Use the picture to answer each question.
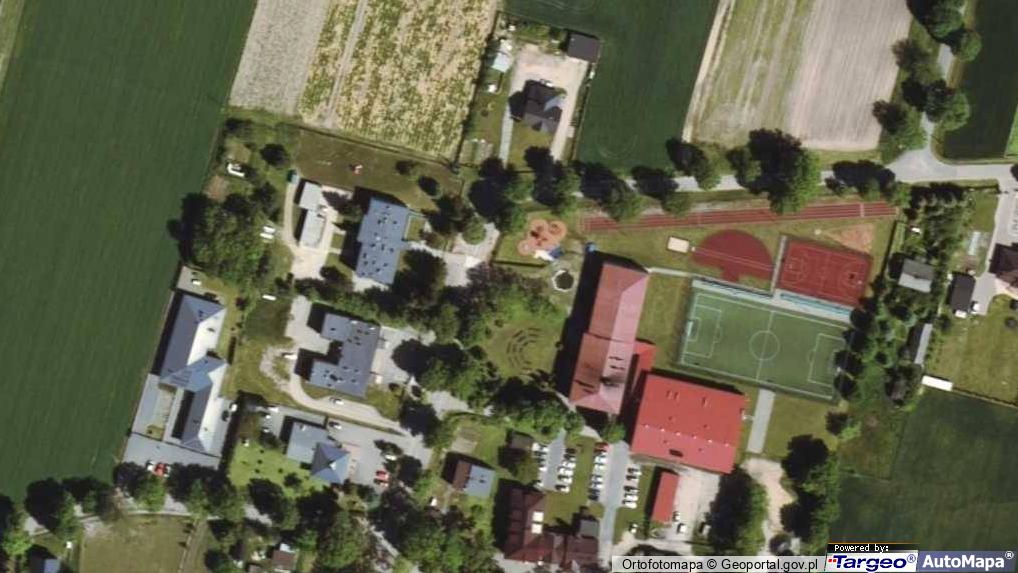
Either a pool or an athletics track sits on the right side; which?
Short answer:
athletics track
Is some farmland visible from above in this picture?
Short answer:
Yes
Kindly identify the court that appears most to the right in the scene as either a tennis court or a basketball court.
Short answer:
basketball court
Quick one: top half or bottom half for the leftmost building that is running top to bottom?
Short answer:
bottom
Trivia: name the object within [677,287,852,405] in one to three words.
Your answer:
soccer field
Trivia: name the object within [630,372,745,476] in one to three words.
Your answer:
building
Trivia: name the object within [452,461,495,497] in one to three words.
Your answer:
house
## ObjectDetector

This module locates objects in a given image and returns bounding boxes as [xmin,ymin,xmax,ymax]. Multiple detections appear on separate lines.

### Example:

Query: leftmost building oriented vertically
[160,295,228,454]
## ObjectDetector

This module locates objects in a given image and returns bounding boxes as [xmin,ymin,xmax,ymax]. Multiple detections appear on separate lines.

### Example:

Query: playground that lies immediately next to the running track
[518,220,568,256]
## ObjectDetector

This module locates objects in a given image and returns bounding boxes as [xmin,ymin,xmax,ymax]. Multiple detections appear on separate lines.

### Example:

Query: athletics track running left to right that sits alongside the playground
[582,203,898,232]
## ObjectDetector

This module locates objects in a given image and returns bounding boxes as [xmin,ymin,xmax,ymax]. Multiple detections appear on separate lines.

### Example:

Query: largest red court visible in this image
[778,238,871,304]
